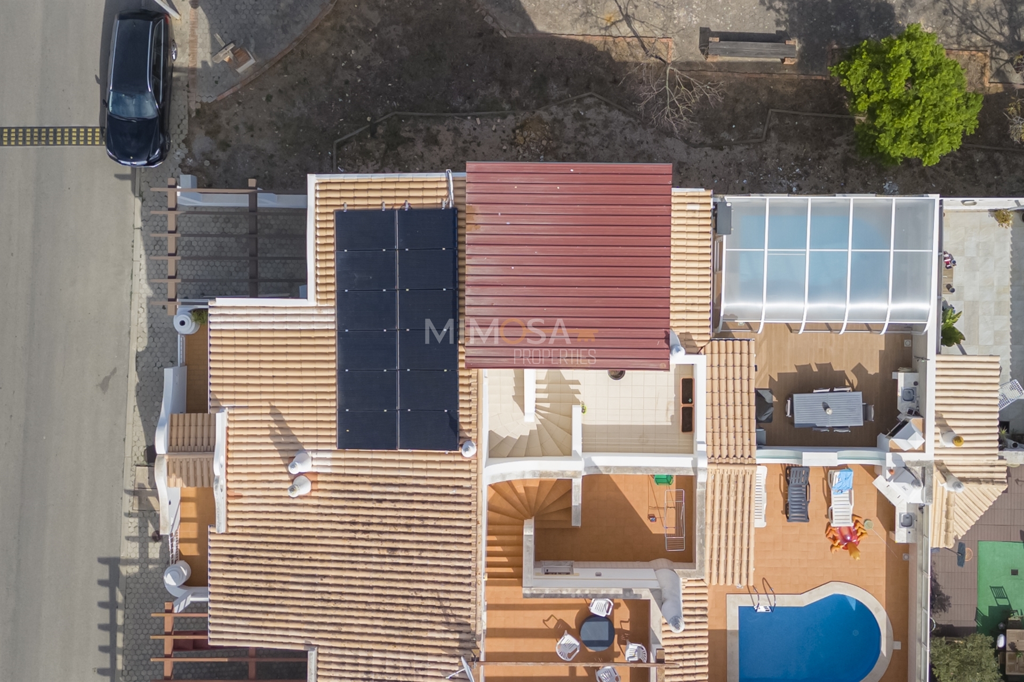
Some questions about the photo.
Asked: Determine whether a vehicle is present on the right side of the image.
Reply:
No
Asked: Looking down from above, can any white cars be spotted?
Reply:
No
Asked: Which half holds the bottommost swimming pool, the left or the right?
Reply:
right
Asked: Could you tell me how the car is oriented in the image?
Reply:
vertically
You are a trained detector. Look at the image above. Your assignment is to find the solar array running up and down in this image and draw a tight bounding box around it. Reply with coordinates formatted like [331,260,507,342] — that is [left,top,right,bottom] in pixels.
[336,203,458,453]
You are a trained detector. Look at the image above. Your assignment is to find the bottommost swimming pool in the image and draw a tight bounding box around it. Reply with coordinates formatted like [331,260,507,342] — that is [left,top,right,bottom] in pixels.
[727,582,893,682]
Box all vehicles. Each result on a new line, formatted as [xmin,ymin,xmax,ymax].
[96,9,174,168]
